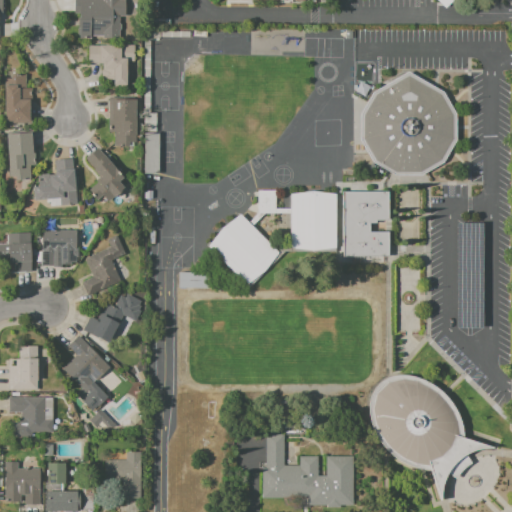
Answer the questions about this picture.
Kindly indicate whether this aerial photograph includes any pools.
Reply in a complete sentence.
Yes, there's a pool down there.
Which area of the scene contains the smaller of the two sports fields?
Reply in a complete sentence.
The smaller of the two sports fields appears toward the top of the photo.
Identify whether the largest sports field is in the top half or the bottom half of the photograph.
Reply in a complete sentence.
Seen from above, the largest sports field lies in the bottom half of the view.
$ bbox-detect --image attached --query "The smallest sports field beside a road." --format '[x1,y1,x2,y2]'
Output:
[184,55,316,183]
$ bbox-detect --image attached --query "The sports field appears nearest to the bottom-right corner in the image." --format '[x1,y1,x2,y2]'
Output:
[178,290,388,392]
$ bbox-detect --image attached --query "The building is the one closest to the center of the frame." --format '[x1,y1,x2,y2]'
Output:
[208,214,280,284]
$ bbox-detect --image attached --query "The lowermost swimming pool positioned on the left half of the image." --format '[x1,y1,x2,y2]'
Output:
[56,442,84,460]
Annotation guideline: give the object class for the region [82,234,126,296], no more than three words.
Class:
house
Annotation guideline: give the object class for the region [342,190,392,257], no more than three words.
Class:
building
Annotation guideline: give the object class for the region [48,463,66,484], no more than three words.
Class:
house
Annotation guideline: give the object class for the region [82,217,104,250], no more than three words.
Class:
swimming pool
